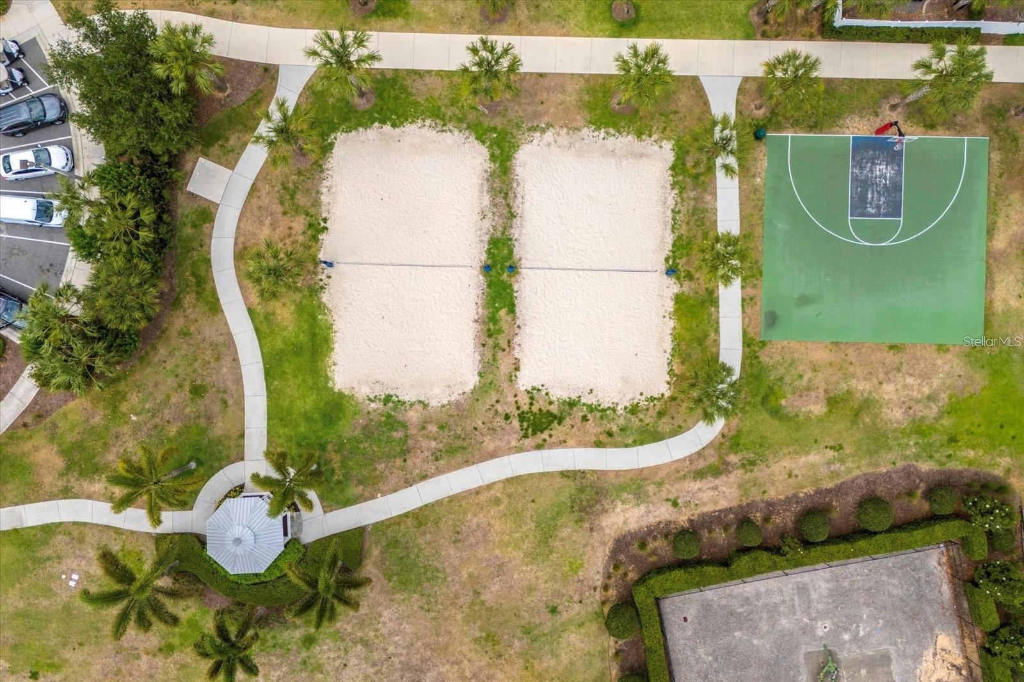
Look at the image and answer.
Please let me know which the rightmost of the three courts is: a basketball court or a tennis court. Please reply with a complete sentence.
What you see as the rightmost of the three courts is a basketball court.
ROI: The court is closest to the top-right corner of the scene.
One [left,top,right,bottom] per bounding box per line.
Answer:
[761,135,989,344]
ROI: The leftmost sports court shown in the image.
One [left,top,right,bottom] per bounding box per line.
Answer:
[316,121,493,405]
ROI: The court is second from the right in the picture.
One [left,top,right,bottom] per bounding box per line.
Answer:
[509,128,677,406]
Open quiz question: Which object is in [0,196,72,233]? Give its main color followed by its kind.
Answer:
white car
